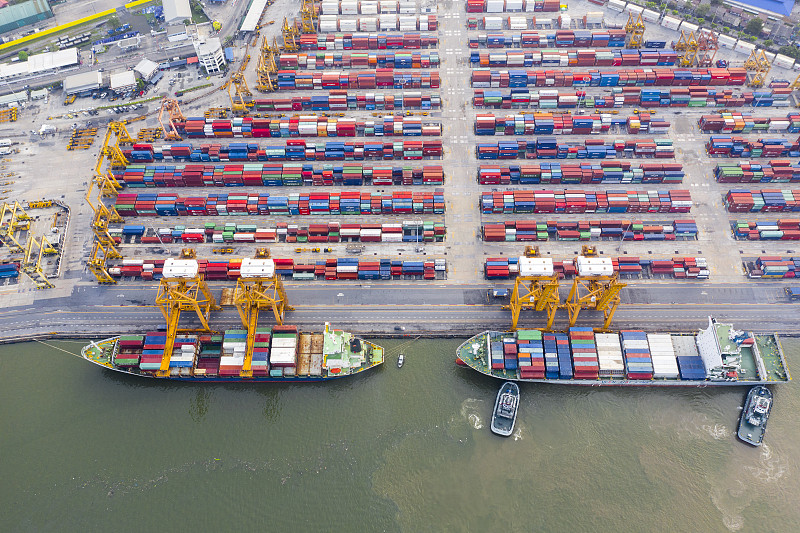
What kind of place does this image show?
port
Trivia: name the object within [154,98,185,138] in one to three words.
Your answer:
crane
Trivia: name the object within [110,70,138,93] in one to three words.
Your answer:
shed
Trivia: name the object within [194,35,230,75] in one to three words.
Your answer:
building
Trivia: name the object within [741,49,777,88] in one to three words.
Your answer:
crane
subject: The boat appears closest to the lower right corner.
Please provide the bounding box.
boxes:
[738,386,773,447]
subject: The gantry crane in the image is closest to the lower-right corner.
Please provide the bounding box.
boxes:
[559,247,635,331]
